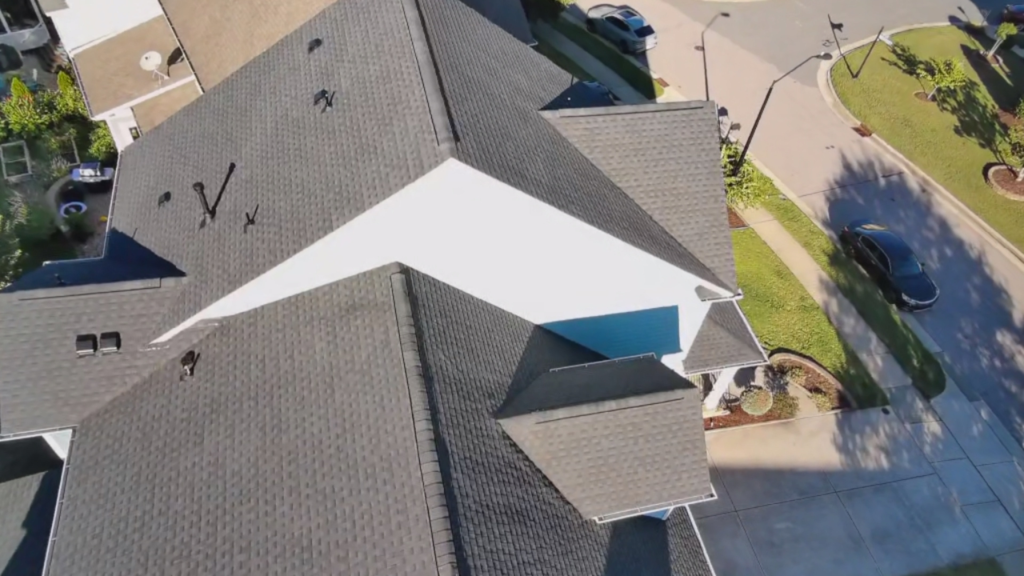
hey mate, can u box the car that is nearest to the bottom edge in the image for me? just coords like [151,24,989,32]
[845,217,941,306]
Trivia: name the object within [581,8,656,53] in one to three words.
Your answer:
car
